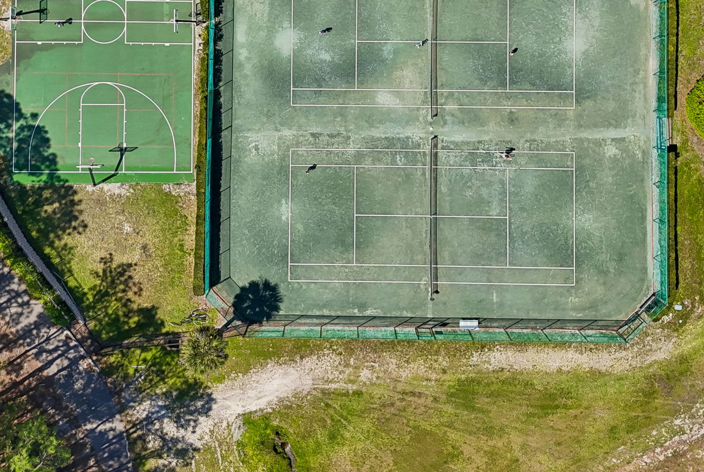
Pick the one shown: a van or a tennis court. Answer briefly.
tennis court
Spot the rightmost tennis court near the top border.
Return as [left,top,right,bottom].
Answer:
[213,0,652,131]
